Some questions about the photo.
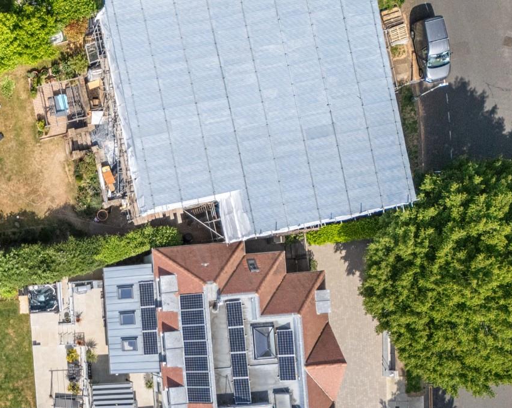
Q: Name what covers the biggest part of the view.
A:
buildings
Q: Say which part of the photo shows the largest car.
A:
top right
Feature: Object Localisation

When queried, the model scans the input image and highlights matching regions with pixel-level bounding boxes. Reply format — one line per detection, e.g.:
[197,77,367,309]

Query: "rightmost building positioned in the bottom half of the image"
[140,242,348,408]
